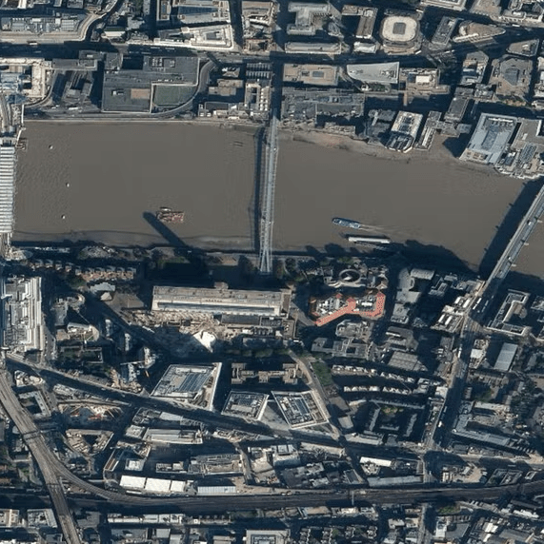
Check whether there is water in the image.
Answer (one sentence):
Yes, water can be seen from above here.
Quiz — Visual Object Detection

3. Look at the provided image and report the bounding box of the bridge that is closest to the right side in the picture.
[481,181,544,288]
